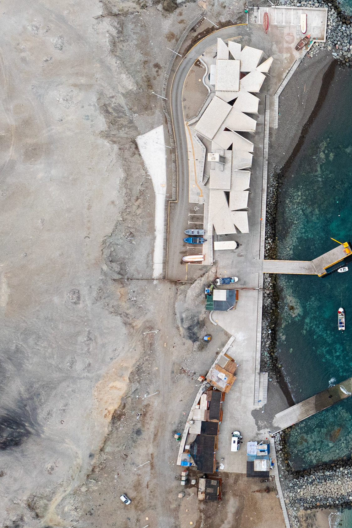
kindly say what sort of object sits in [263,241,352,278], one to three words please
pier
